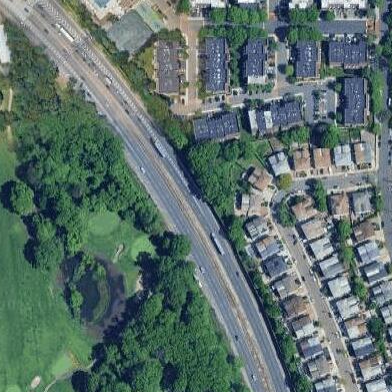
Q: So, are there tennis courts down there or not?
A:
Yes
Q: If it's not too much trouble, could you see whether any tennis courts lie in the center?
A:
No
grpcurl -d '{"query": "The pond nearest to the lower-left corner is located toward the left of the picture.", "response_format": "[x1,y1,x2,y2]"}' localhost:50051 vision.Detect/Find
[65,255,123,329]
